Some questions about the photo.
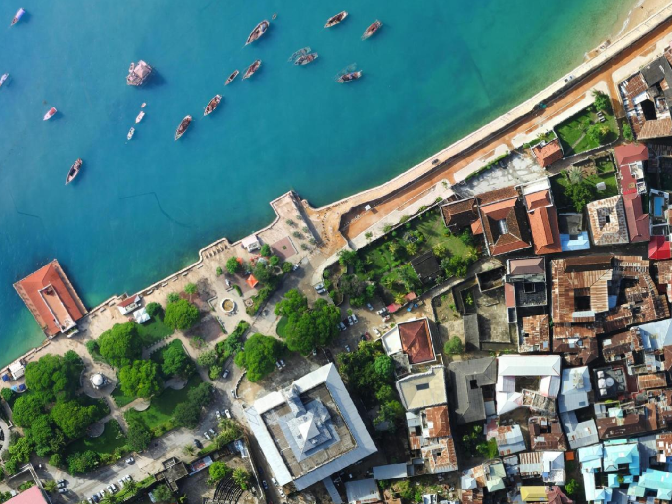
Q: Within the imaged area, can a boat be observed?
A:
Yes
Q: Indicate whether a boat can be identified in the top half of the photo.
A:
Yes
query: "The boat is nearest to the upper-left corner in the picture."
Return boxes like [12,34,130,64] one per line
[11,8,25,28]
